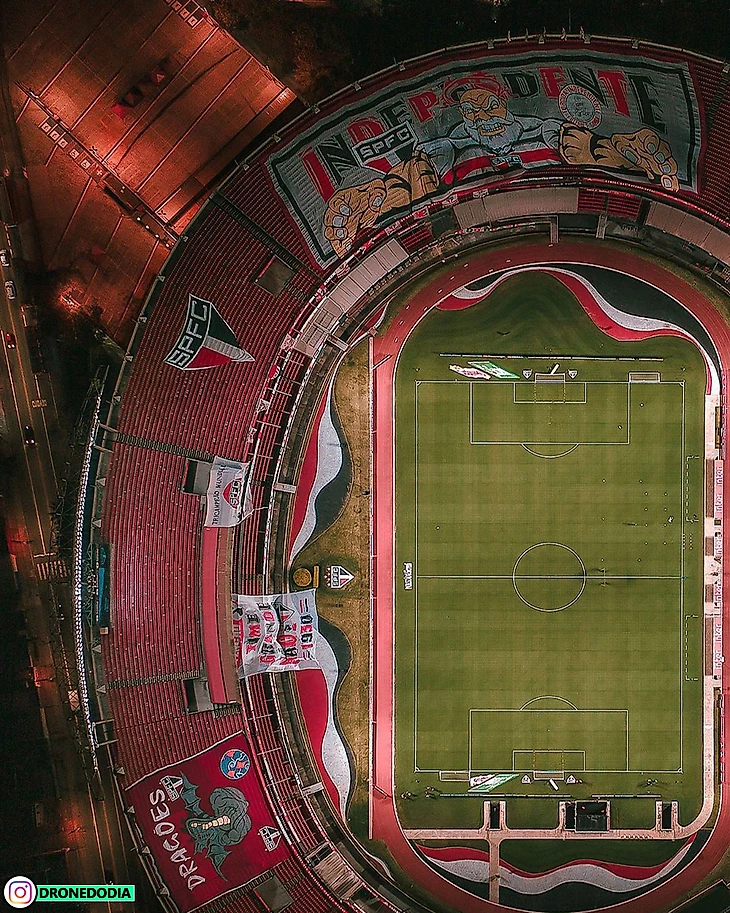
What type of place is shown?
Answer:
sports ground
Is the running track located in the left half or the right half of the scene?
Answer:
right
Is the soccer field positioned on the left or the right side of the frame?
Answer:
right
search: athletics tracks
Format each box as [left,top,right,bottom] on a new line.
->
[373,242,730,913]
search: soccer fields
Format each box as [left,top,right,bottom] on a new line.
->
[398,357,705,797]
